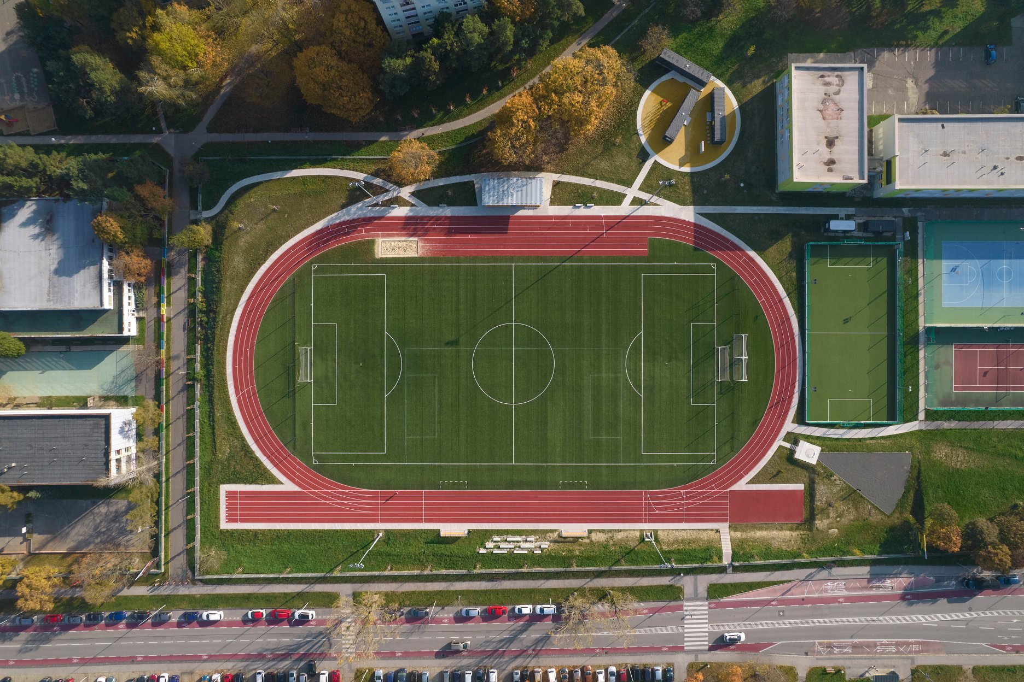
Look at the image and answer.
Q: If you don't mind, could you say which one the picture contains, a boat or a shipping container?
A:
shipping container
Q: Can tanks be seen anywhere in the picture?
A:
No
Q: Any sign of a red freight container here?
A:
No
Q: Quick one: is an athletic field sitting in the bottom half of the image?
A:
Yes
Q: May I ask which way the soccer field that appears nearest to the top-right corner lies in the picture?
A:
vertically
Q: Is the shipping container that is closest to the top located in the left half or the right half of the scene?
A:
right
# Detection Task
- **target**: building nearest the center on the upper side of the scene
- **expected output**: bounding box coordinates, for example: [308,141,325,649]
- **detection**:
[482,178,543,211]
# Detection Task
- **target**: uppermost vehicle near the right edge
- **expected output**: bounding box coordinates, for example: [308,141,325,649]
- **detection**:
[984,43,996,65]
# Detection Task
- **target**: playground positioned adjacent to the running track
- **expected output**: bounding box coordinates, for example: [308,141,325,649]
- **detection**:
[637,70,740,172]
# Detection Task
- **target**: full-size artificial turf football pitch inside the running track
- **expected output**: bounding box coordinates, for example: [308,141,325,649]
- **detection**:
[254,237,775,490]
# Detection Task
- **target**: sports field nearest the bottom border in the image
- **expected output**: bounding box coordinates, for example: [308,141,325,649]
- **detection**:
[817,452,911,516]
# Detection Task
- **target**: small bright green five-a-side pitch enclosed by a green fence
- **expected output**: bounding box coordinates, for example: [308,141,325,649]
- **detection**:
[809,244,896,423]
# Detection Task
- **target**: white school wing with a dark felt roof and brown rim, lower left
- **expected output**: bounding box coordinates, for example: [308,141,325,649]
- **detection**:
[0,409,136,484]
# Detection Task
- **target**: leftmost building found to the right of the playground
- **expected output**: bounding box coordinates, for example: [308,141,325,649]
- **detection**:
[775,63,867,191]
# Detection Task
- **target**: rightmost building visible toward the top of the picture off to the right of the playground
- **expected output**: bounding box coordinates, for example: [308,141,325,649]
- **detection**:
[874,115,1024,198]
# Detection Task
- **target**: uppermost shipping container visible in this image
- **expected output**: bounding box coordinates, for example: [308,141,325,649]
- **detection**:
[657,48,712,88]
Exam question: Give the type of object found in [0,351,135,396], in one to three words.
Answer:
sports court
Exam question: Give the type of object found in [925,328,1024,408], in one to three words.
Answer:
tennis court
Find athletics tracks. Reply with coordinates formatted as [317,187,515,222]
[220,207,804,529]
